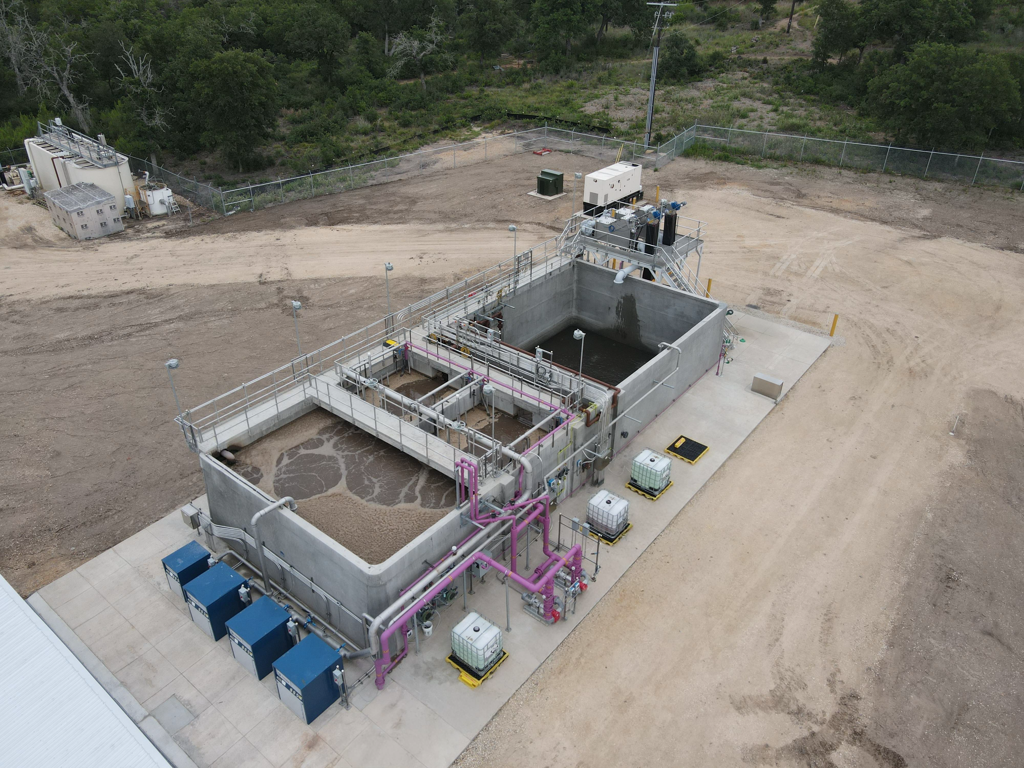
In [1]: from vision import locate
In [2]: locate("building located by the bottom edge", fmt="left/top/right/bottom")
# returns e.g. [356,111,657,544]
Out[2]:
[0,569,183,768]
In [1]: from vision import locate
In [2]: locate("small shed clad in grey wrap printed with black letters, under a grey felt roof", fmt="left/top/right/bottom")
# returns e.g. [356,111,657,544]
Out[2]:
[39,182,122,240]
